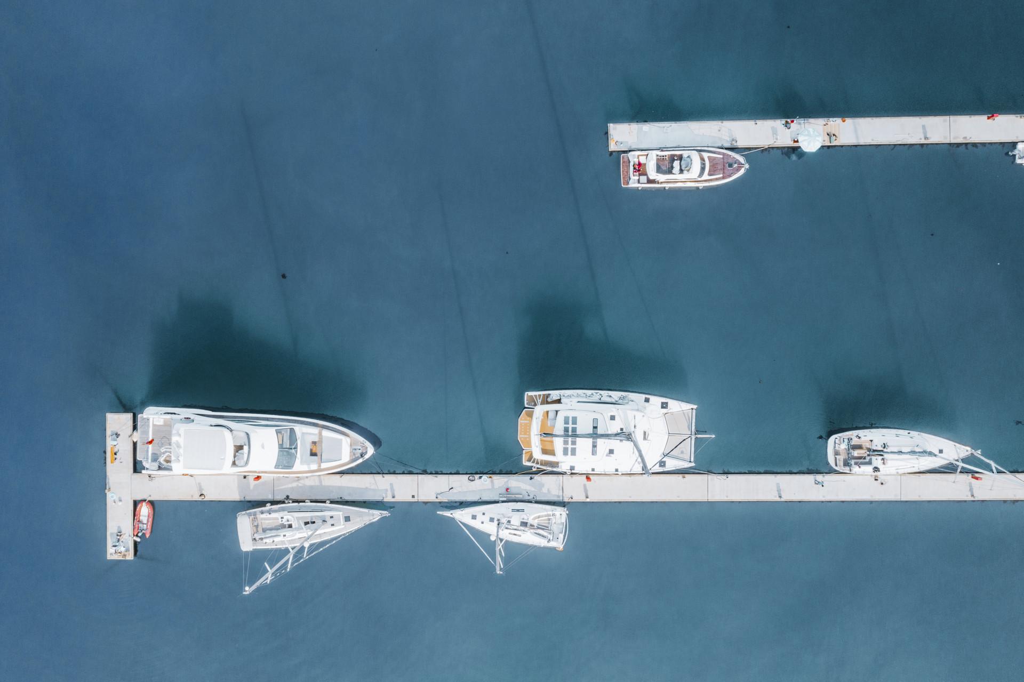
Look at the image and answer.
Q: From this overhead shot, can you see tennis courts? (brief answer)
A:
No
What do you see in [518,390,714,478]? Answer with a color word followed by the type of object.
white boat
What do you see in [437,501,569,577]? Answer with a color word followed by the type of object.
white boat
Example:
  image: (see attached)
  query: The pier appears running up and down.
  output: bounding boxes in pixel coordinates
[107,412,134,559]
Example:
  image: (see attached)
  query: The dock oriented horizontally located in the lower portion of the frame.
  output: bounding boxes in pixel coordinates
[132,473,1024,501]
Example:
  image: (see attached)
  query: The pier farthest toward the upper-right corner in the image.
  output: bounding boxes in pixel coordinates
[608,114,1024,152]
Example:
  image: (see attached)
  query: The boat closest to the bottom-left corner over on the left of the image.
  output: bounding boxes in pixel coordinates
[134,500,154,537]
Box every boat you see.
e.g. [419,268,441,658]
[621,147,752,189]
[134,500,154,537]
[518,390,714,478]
[234,502,391,599]
[821,427,1024,496]
[137,405,383,477]
[437,501,569,577]
[1006,142,1024,164]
